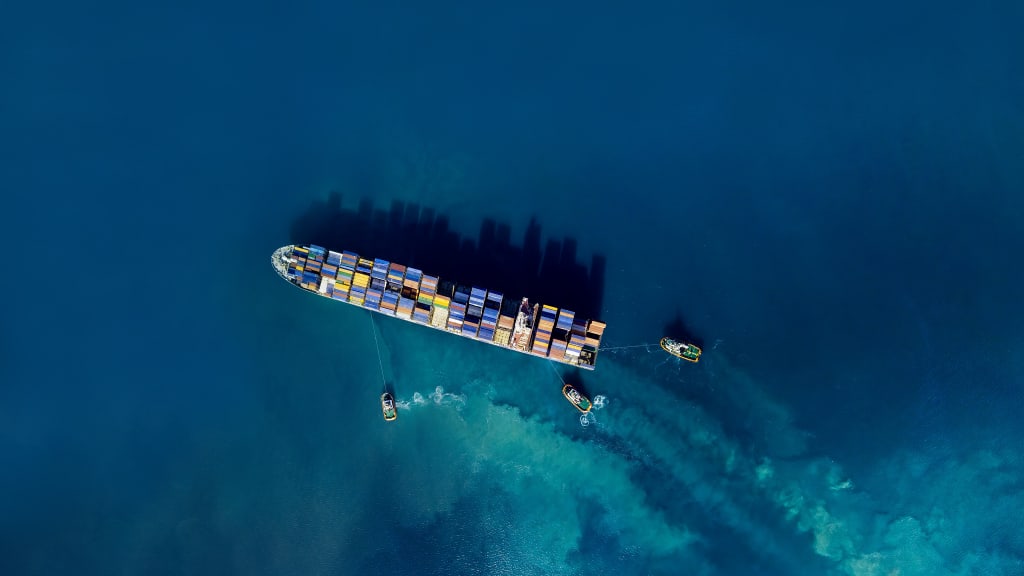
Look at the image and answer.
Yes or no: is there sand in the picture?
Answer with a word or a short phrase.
No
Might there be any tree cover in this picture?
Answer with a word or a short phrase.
No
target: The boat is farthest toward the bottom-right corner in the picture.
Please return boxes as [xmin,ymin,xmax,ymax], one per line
[661,339,701,362]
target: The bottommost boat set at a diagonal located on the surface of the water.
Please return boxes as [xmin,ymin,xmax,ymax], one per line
[565,384,591,413]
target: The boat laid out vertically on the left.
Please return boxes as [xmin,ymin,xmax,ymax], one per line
[381,393,396,421]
